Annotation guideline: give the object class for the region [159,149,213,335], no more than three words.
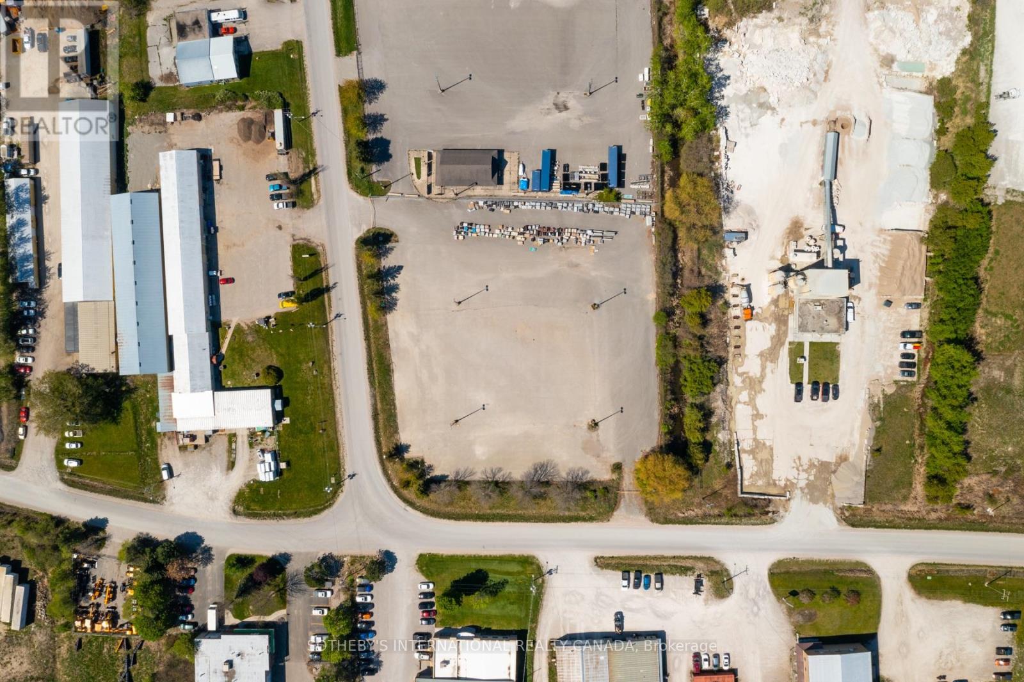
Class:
building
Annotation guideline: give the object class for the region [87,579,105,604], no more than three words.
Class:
work vehicle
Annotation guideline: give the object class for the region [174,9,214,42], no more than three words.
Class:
building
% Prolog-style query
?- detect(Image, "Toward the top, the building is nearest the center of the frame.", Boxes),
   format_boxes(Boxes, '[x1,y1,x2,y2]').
[436,150,497,186]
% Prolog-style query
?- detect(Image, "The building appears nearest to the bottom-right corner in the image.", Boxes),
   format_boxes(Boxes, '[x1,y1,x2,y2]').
[802,644,872,682]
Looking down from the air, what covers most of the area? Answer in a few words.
paved ground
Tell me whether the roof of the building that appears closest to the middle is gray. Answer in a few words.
Yes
